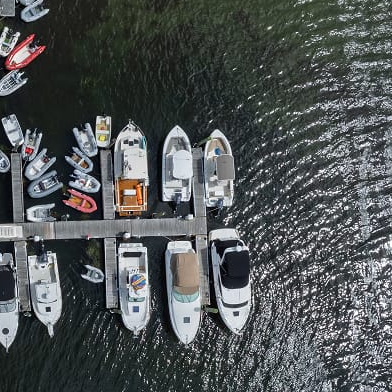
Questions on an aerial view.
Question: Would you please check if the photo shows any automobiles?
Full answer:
No, there isn't any automobile down there.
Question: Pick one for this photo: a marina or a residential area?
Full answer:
The picture captures a marina.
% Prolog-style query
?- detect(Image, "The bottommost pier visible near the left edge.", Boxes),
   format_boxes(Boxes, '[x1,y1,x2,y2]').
[14,240,30,312]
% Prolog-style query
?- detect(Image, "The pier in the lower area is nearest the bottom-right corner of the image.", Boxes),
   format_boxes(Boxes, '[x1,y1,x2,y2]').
[195,235,209,304]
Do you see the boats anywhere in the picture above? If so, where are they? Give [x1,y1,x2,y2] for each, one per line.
[0,110,24,145]
[27,241,61,335]
[0,151,10,173]
[202,129,233,220]
[207,227,254,334]
[22,0,52,22]
[66,170,100,193]
[0,67,30,96]
[28,170,65,199]
[0,25,21,56]
[159,125,192,215]
[117,243,149,333]
[4,32,46,71]
[0,251,19,350]
[113,122,147,215]
[27,203,60,222]
[70,120,100,156]
[62,150,93,175]
[162,240,202,344]
[76,264,104,280]
[59,188,96,214]
[19,126,43,160]
[96,110,111,148]
[25,148,58,180]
